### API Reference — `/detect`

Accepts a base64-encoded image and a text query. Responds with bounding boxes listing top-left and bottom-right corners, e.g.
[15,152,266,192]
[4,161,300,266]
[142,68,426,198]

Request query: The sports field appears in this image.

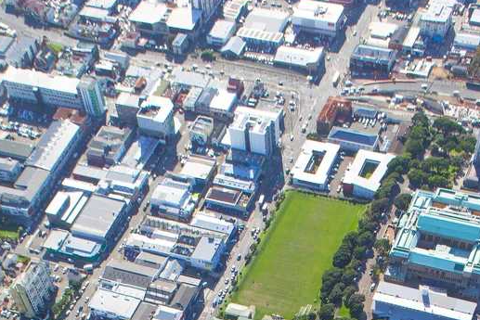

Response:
[234,188,370,320]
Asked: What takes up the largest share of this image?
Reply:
buildings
